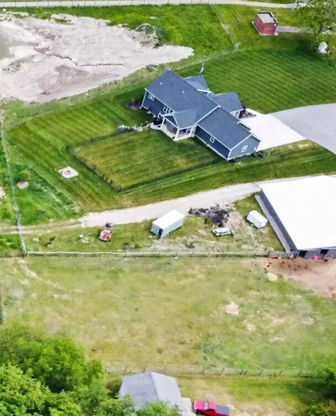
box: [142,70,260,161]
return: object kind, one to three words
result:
house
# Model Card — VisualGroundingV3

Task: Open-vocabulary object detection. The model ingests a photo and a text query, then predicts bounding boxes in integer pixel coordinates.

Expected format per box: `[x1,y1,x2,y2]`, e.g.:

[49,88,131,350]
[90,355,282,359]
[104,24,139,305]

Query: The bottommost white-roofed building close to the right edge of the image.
[256,176,336,266]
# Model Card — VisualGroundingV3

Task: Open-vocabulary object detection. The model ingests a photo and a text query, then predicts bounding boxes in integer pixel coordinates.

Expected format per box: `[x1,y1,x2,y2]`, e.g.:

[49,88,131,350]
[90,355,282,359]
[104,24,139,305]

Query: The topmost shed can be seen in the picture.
[253,10,280,35]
